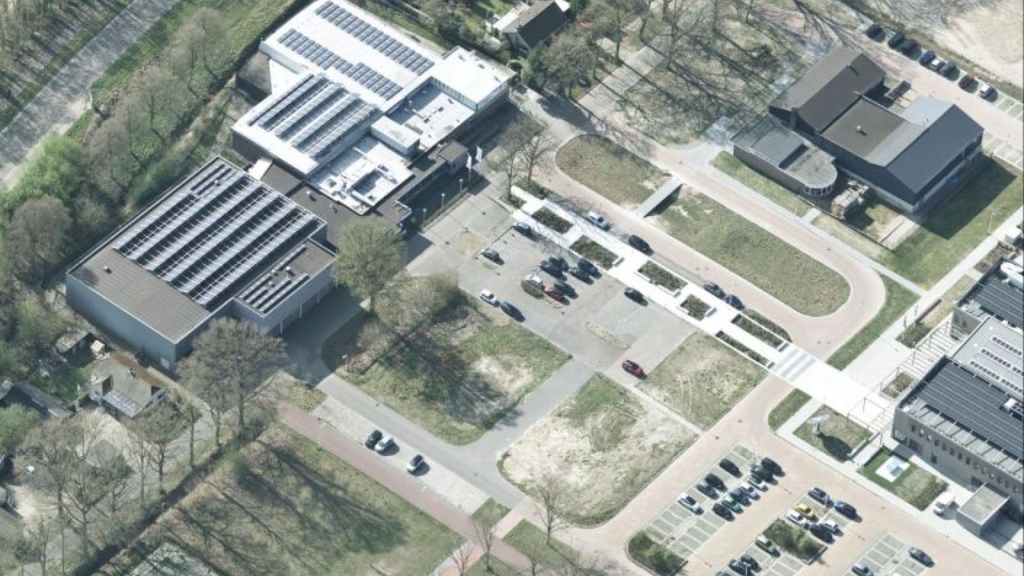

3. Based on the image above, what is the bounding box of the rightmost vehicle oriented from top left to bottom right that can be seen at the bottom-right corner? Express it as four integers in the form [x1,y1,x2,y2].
[907,546,934,567]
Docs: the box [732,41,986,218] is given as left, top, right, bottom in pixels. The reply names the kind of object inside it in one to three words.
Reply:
building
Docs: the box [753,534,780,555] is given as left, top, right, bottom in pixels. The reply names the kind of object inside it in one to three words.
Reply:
car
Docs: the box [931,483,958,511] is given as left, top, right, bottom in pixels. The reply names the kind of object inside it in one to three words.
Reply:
vehicle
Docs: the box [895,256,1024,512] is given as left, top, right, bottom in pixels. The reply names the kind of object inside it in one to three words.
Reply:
building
